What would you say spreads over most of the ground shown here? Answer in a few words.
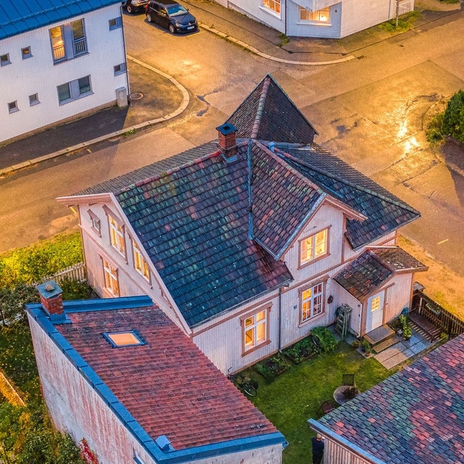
buildings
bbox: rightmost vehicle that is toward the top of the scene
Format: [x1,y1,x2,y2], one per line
[137,0,201,34]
